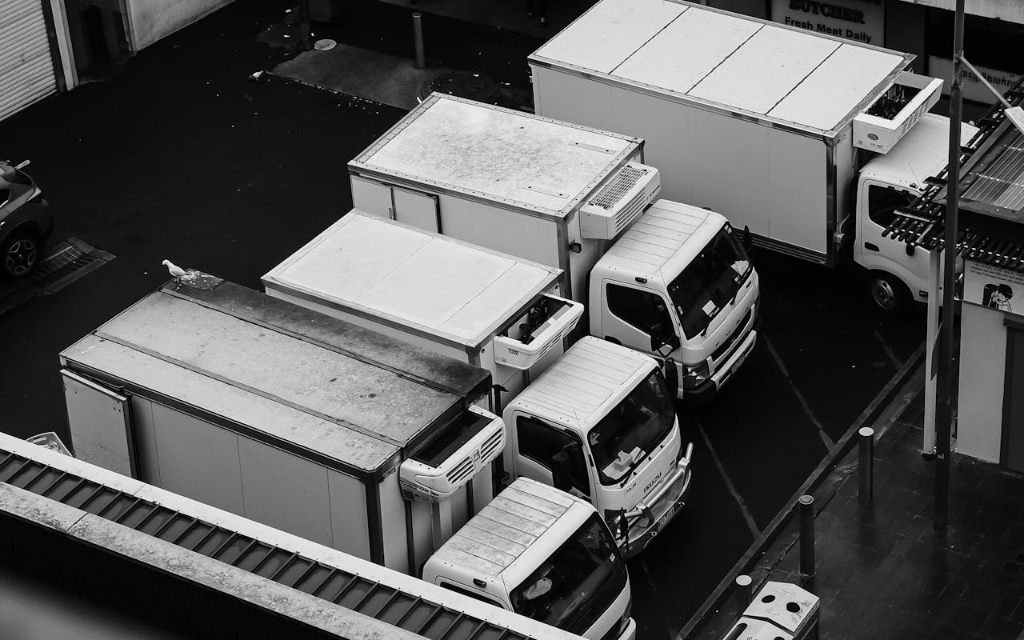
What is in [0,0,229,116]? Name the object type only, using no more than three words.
building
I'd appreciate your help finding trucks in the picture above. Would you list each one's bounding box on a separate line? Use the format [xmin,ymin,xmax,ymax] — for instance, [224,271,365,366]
[346,92,769,408]
[52,266,648,640]
[526,0,1018,326]
[259,207,704,567]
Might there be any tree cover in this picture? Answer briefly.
No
